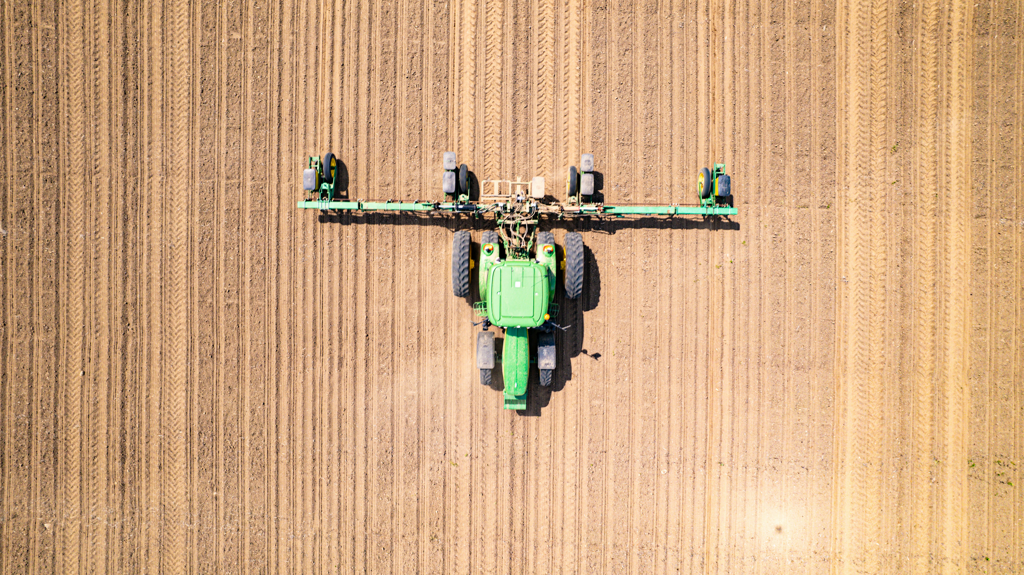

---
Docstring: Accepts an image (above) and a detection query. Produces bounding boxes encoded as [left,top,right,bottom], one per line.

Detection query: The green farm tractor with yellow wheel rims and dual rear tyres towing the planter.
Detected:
[452,220,583,410]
